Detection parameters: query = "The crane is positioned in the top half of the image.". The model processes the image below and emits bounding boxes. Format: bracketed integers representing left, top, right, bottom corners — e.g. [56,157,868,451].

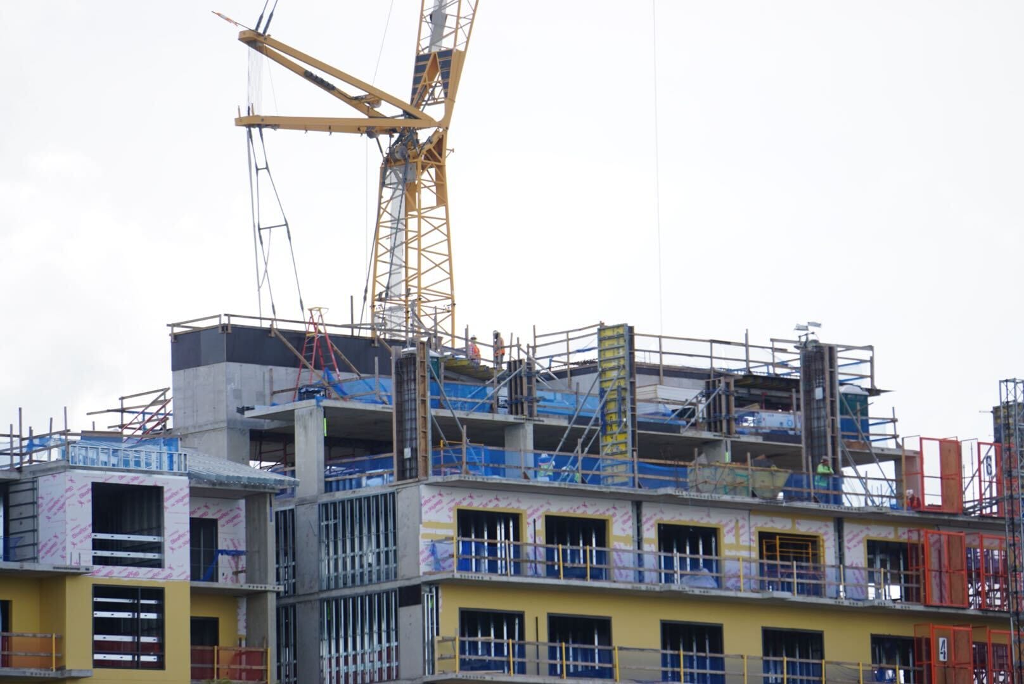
[211,0,481,347]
